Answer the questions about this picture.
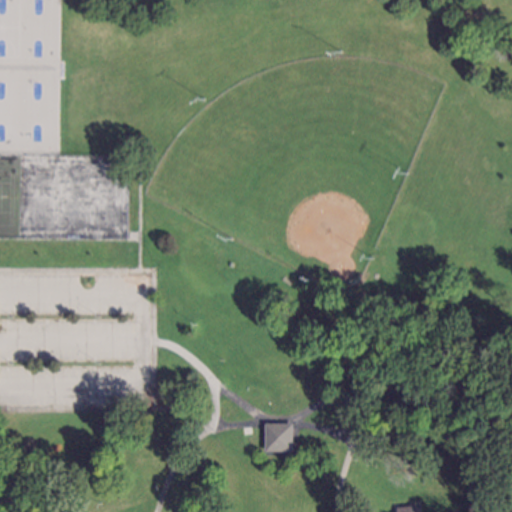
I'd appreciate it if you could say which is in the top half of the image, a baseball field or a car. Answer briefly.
baseball field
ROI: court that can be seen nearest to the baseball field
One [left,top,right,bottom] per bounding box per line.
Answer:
[19,155,128,238]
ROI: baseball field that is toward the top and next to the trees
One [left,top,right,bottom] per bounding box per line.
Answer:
[146,55,445,288]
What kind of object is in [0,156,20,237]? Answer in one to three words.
tennis court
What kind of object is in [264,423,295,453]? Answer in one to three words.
building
